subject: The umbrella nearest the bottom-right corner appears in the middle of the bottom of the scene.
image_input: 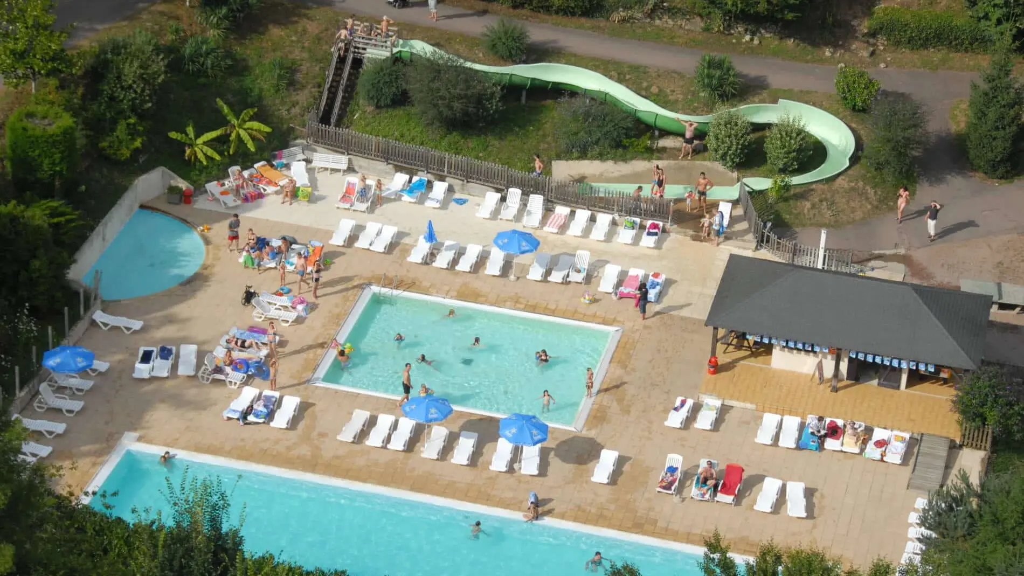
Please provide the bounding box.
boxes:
[499,418,547,472]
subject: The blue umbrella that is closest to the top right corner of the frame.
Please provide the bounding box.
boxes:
[494,233,537,282]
